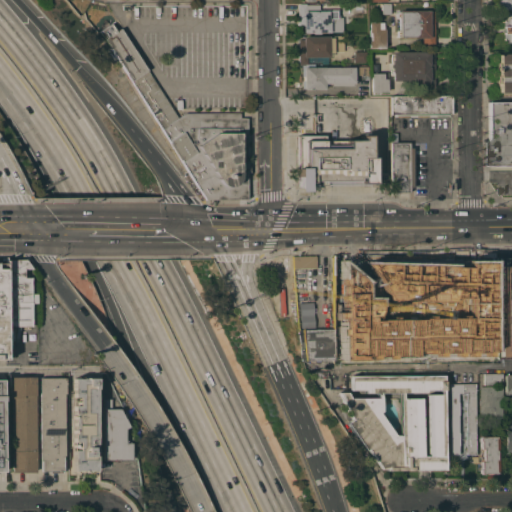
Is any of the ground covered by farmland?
No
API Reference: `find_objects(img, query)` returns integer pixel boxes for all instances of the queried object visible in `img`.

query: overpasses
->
[34,196,217,262]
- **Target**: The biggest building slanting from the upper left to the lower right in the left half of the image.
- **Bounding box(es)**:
[104,24,249,204]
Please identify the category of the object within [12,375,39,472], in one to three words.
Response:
building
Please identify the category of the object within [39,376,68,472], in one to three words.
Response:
building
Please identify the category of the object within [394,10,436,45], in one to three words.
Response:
house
